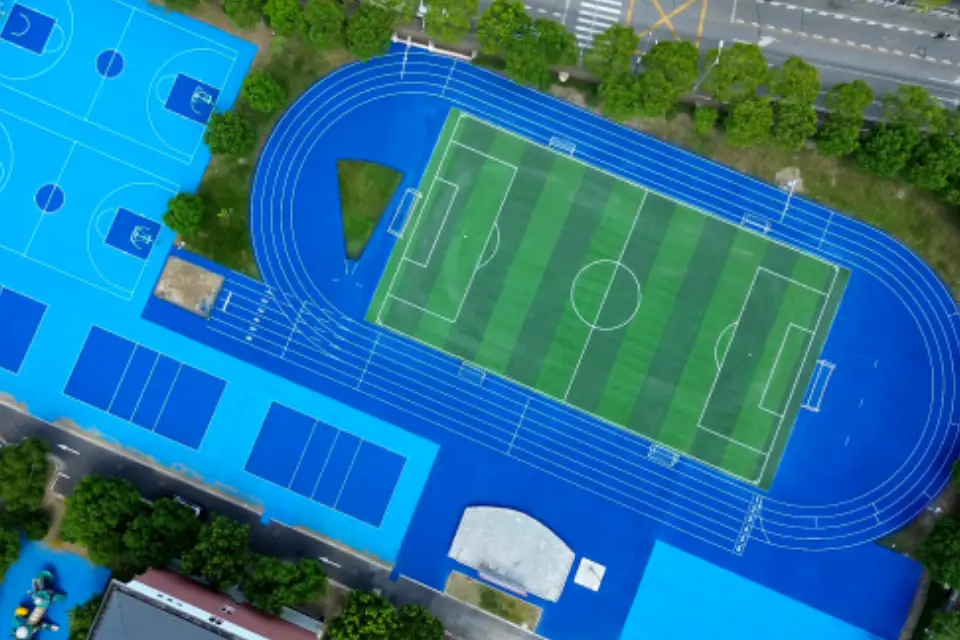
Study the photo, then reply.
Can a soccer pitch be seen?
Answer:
Yes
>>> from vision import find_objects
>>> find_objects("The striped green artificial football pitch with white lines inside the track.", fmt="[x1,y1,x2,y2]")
[361,108,851,490]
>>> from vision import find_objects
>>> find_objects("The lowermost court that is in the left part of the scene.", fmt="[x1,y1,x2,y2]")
[244,401,408,528]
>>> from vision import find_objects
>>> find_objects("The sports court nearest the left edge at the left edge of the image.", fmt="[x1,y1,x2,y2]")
[0,286,50,374]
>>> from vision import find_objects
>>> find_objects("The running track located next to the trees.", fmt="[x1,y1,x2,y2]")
[188,43,960,554]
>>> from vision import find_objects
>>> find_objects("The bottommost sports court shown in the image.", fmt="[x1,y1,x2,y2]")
[620,541,881,640]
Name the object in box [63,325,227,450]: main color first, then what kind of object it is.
blue sports court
